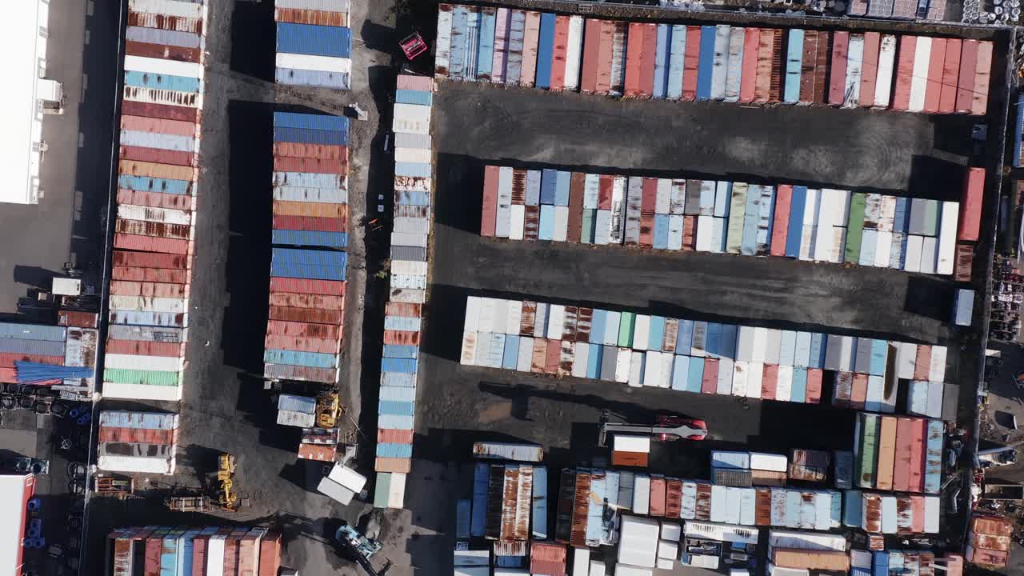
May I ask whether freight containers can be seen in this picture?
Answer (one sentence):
Yes, I can see a freight container in this picture.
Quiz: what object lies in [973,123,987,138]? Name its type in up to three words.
vehicle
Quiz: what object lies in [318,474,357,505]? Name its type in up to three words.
shipping container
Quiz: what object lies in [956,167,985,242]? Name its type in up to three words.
shipping container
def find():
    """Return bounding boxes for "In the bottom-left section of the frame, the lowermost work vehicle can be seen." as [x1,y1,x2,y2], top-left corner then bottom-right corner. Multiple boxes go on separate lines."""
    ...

[215,454,238,509]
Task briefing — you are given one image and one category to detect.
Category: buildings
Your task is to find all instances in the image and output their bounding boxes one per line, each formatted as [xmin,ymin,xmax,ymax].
[0,0,52,205]
[0,471,37,576]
